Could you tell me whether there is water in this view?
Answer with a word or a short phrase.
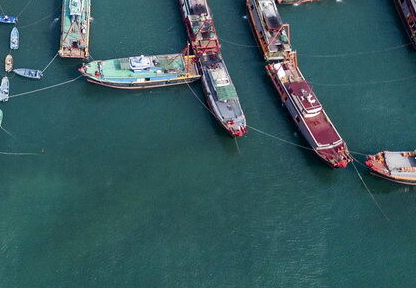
Yes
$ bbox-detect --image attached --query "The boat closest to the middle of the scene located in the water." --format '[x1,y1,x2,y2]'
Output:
[200,52,247,138]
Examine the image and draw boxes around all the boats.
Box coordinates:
[14,69,44,80]
[246,0,294,58]
[0,16,18,23]
[79,50,199,89]
[178,0,223,55]
[10,27,19,50]
[365,147,416,186]
[393,0,416,50]
[200,52,247,138]
[268,54,350,168]
[59,0,91,59]
[0,76,9,102]
[5,54,13,72]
